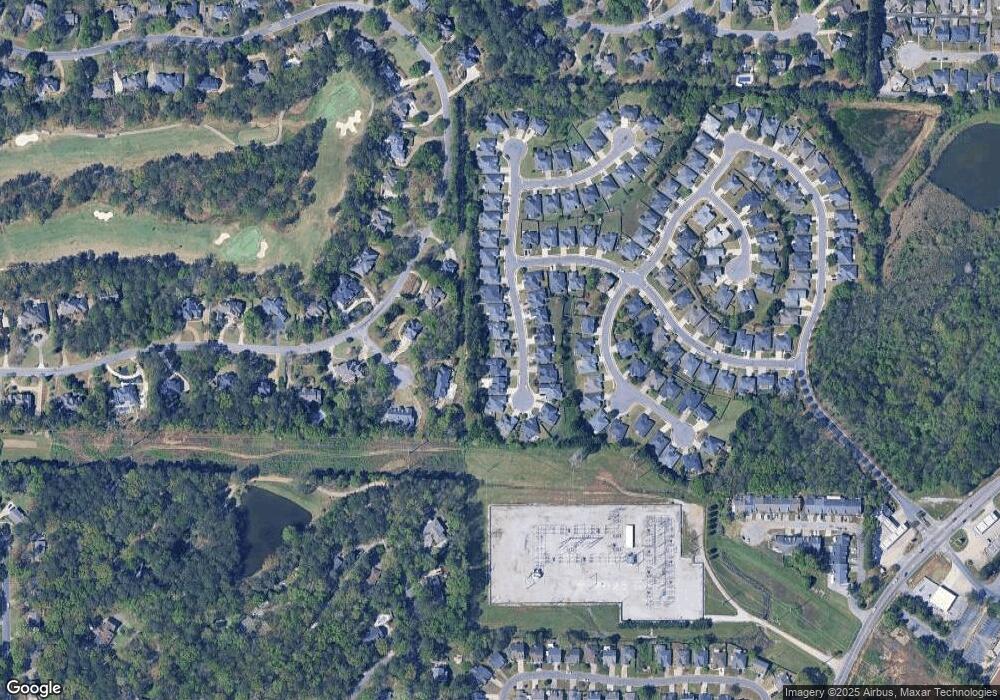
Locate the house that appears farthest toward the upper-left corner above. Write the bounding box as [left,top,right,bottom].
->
[21,2,48,22]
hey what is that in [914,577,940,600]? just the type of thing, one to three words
building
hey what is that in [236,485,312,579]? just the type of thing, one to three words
pond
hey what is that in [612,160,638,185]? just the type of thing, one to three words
house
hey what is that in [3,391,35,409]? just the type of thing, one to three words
house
